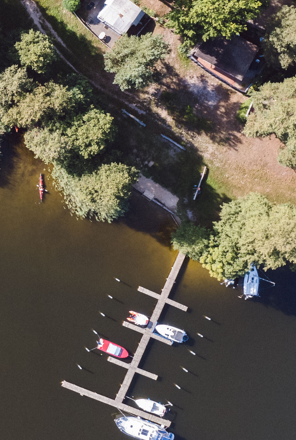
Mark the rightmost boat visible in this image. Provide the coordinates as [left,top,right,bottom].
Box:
[243,265,271,301]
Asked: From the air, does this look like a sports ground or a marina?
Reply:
marina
